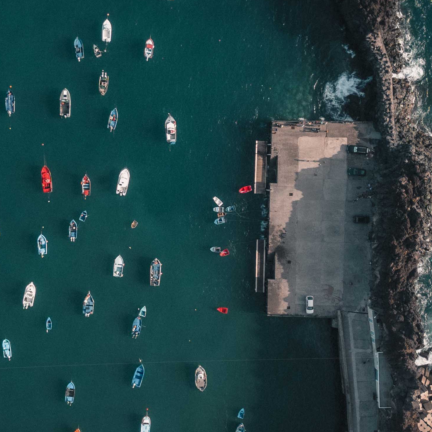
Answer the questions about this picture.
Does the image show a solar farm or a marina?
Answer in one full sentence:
It's a marina.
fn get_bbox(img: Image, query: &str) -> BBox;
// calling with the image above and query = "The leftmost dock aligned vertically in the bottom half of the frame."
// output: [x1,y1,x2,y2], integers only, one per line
[255,240,270,292]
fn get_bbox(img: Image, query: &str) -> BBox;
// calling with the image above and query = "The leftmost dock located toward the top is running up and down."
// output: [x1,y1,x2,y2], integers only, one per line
[254,141,269,194]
